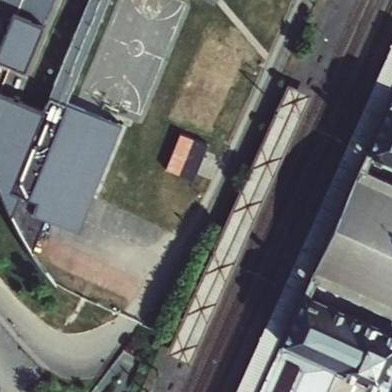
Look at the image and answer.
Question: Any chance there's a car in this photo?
No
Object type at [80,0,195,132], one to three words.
basketball court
